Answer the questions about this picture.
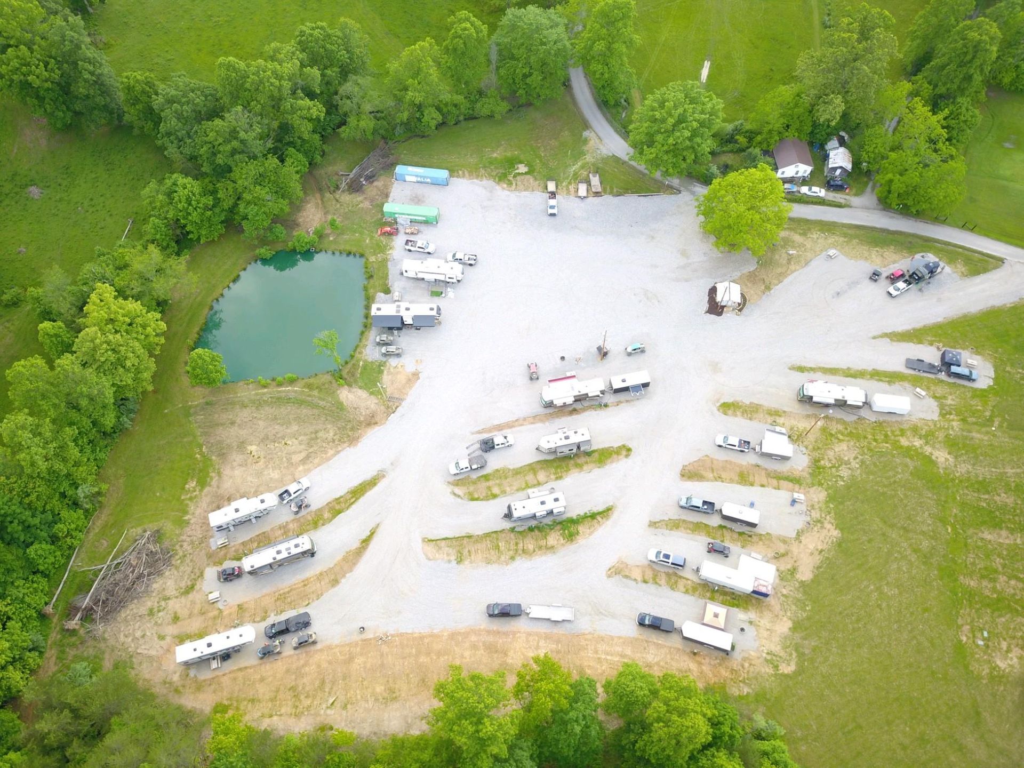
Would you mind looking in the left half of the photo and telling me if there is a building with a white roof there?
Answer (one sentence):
No, the scene shows no building with a white roof in the left half of the photo.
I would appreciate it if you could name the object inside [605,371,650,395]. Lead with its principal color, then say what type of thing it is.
white trailer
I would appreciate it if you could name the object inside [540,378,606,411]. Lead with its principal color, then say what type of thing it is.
white camper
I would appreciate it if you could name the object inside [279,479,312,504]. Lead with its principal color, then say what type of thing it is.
white truck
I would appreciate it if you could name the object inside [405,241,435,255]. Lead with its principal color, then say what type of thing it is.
white vehicle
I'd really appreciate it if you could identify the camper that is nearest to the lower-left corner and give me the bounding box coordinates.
[175,626,259,667]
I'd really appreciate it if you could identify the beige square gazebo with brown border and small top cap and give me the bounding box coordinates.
[703,603,727,631]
